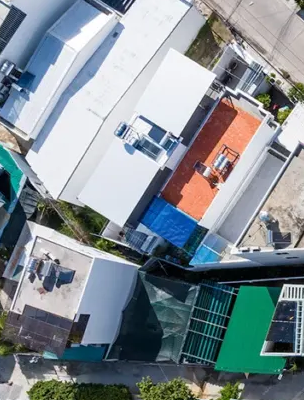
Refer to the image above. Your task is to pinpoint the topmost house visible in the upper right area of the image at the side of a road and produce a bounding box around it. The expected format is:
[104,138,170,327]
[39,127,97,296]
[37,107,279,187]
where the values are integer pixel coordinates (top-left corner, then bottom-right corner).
[211,43,270,101]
